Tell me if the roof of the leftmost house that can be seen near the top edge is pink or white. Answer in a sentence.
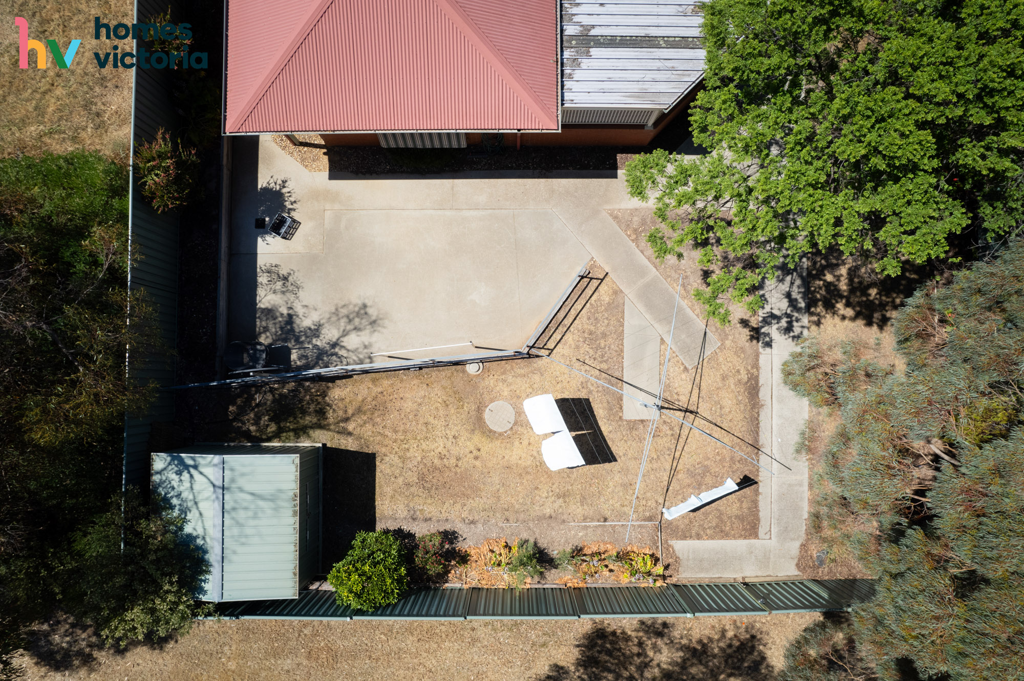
From above, the roof of the leftmost house that can be seen near the top edge appears pink.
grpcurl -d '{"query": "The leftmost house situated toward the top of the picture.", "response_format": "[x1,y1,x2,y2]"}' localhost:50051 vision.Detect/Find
[222,0,571,150]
